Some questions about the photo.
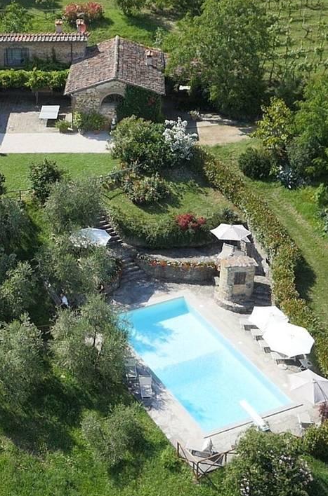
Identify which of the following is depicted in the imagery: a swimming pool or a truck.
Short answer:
swimming pool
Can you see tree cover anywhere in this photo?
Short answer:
Yes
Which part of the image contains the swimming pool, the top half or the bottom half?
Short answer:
bottom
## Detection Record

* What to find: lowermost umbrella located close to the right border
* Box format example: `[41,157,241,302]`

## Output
[293,368,328,411]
